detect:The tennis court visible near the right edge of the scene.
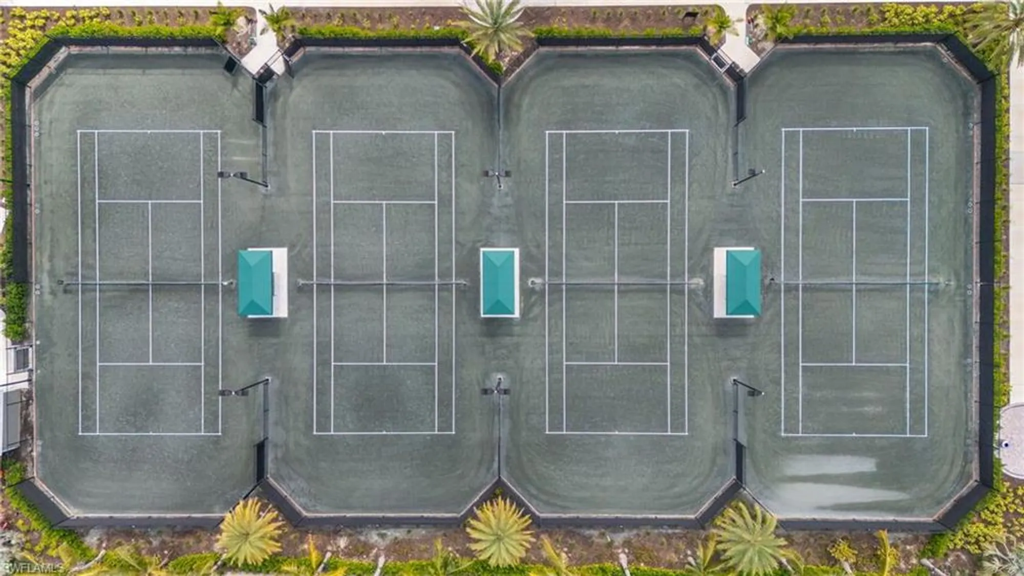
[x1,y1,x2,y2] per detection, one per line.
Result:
[734,38,981,525]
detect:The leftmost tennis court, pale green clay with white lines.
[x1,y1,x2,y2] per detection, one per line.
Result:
[24,40,269,519]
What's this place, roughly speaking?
sports ground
